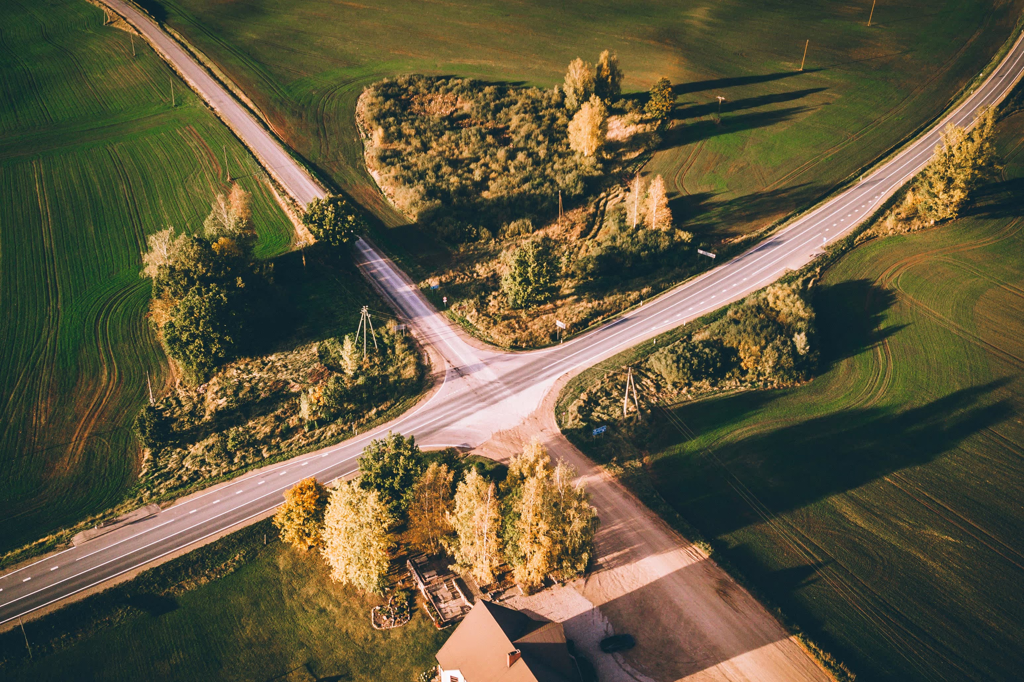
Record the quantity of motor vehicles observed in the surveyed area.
1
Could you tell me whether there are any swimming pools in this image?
No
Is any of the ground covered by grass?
Yes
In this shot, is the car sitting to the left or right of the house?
on its right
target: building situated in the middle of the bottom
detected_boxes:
[434,598,585,682]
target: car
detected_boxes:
[600,633,638,655]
